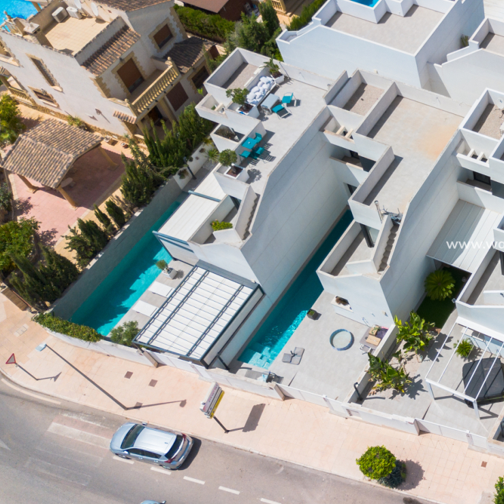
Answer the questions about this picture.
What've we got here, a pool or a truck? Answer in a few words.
pool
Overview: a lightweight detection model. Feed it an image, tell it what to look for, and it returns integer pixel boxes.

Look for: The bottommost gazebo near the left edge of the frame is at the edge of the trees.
[0,116,119,209]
